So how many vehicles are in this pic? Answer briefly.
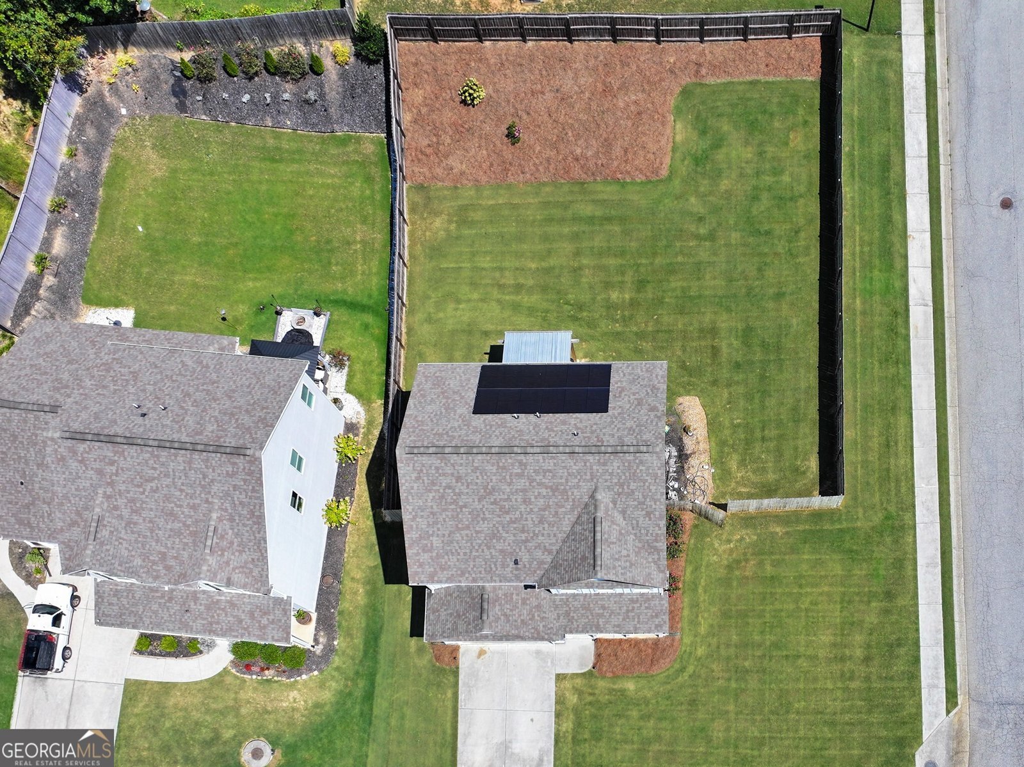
1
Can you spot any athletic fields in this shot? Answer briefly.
No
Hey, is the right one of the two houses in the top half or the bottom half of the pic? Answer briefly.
bottom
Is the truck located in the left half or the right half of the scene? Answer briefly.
left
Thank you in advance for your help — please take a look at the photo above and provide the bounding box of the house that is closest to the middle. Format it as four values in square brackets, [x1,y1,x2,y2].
[394,359,687,649]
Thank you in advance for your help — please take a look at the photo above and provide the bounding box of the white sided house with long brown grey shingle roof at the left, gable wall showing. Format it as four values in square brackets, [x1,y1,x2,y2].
[0,318,345,651]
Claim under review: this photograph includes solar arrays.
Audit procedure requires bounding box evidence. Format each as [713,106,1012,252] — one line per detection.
[472,365,613,416]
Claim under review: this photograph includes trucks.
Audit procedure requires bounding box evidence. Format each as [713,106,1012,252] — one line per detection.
[21,579,80,676]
